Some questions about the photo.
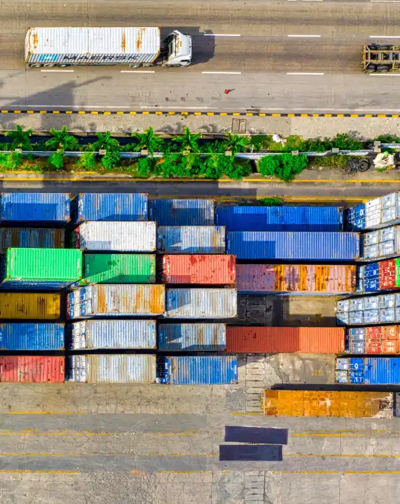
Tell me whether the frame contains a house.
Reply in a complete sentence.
No, no house is visible in the scene.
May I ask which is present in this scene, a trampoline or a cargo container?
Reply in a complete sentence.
Visible in the photo is a cargo container.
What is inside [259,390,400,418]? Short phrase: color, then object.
orange truck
